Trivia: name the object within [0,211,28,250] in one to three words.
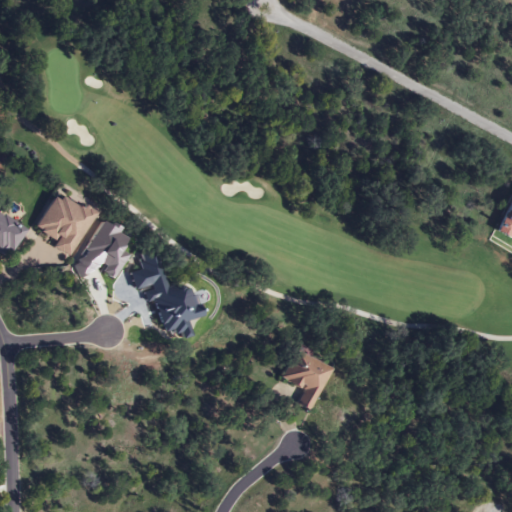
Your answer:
house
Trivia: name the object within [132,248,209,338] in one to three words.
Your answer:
house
